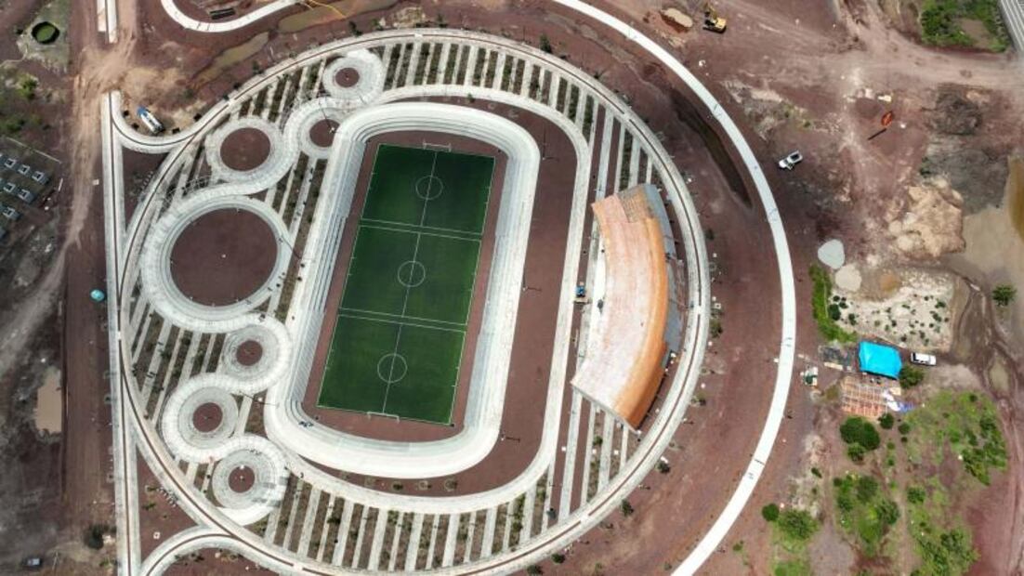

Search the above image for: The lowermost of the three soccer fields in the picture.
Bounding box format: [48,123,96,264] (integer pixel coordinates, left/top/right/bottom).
[317,314,467,427]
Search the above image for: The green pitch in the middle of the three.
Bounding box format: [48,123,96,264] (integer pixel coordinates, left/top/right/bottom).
[339,222,483,331]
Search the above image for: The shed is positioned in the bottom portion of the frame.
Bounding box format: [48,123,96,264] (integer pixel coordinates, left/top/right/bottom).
[803,363,825,386]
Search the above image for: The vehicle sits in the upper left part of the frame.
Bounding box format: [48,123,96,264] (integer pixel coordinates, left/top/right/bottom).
[132,103,162,131]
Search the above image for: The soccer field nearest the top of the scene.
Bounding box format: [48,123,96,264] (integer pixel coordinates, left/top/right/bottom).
[361,145,496,237]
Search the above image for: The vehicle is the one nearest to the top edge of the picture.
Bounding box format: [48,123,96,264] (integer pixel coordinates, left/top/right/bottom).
[699,0,728,30]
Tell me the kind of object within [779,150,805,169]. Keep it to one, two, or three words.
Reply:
vehicle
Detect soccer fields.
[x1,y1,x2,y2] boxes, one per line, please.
[317,314,467,427]
[339,222,483,331]
[361,145,496,237]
